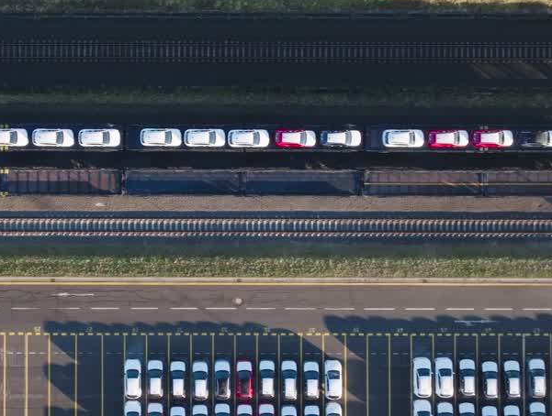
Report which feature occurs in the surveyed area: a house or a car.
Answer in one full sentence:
Looking from above, you can make out a car.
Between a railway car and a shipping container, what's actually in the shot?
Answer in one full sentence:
The image shows a railway car.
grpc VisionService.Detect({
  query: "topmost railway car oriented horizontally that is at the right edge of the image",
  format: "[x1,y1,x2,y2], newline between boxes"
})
[364,125,552,154]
